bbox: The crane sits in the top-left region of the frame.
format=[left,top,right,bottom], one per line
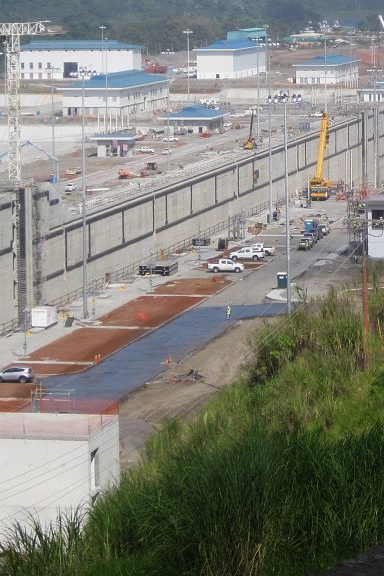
[0,19,63,182]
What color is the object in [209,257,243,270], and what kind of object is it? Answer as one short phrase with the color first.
white vehicle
